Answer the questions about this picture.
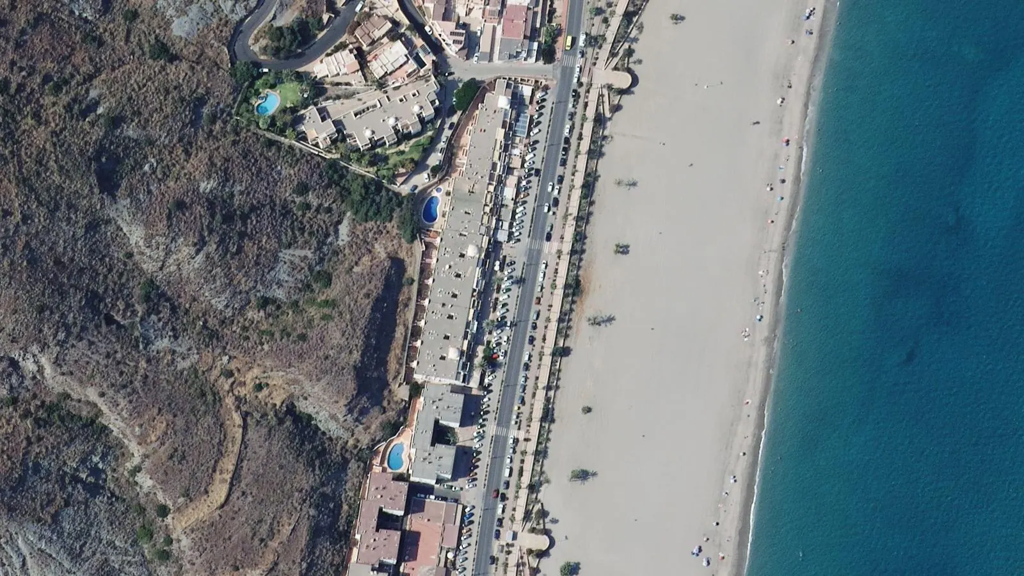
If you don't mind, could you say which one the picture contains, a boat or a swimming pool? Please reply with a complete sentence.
Visible in the photo is a swimming pool.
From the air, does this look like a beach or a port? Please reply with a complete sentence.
The area seen from above is a beach.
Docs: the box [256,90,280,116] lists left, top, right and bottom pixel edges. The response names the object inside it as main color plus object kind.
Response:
blue swimming pool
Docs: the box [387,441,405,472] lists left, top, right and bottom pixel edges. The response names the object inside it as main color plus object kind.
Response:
blue swimming pool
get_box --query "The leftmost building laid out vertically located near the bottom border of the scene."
[356,473,410,567]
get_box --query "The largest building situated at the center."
[407,174,498,387]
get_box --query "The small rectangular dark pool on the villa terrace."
[412,51,429,71]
